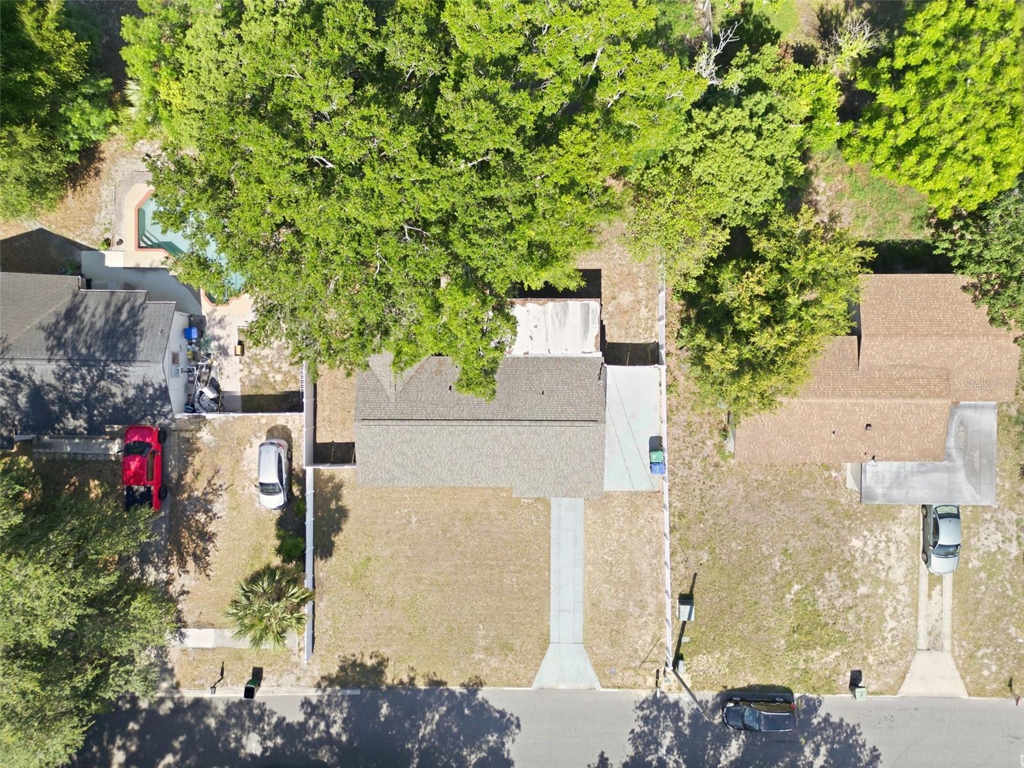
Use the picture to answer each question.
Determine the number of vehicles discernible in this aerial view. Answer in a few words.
4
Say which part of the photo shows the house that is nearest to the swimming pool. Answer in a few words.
left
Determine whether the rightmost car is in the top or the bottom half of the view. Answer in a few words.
bottom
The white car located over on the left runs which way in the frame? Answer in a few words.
up and down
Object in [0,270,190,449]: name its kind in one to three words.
house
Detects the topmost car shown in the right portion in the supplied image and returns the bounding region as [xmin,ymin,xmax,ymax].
[923,505,964,574]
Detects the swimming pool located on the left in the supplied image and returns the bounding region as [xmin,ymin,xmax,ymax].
[133,189,259,310]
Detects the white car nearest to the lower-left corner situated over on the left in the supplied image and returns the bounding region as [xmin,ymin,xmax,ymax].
[255,439,291,509]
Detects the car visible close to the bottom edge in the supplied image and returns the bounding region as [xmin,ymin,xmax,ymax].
[721,698,796,737]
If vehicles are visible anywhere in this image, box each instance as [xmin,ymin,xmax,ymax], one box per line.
[721,698,796,737]
[255,439,291,509]
[923,505,964,574]
[122,425,164,509]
